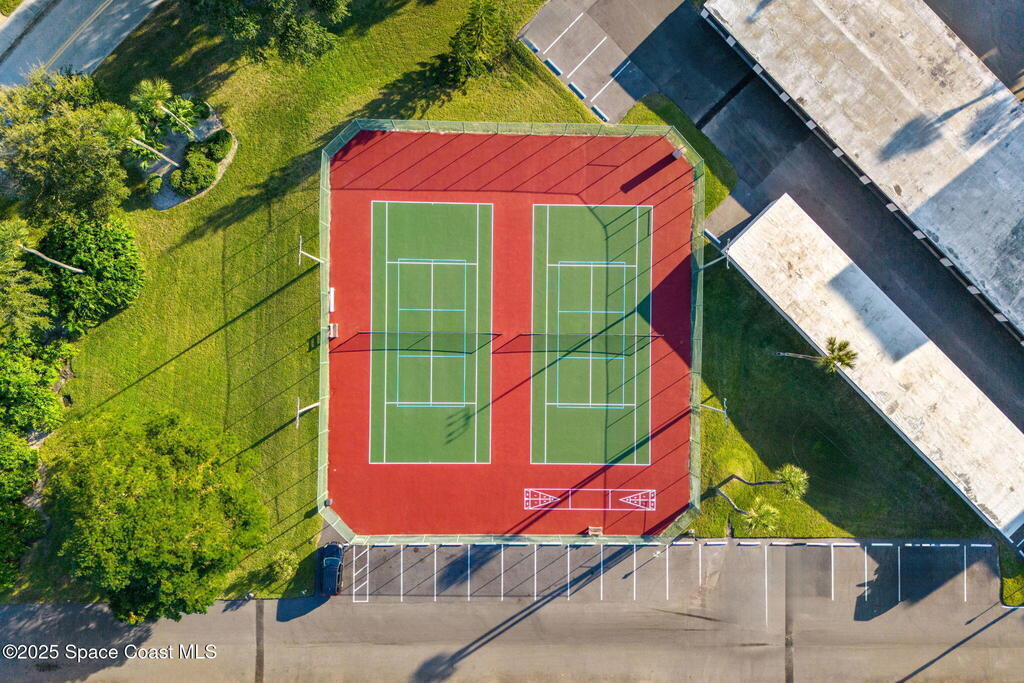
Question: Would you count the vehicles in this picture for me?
1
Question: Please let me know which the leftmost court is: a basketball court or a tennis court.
tennis court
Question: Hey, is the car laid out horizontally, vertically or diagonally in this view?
vertically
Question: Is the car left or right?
left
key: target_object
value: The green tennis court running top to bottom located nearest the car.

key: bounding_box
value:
[369,201,493,464]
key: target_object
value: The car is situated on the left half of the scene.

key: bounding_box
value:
[317,540,344,599]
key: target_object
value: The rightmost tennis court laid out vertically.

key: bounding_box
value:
[531,204,654,466]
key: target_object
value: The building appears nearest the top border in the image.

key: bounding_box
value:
[699,0,1024,349]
